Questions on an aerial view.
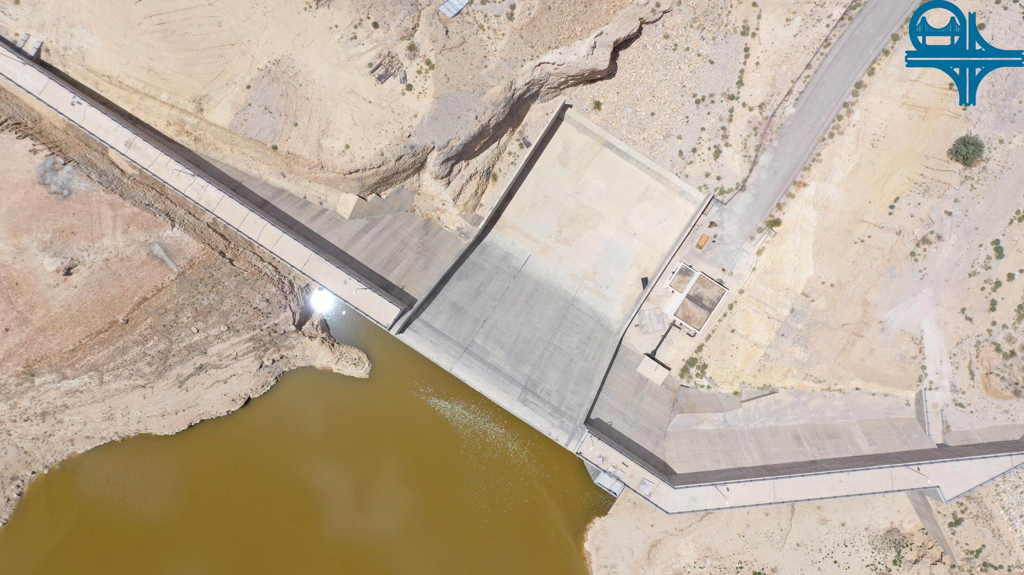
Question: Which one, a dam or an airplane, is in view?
dam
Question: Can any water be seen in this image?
Yes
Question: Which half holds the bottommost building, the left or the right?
right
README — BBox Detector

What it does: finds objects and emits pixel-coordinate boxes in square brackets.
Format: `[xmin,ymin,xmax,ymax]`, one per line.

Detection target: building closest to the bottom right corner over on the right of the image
[665,264,728,333]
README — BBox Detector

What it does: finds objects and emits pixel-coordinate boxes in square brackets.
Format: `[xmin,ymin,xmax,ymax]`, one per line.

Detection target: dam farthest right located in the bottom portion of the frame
[572,421,1024,514]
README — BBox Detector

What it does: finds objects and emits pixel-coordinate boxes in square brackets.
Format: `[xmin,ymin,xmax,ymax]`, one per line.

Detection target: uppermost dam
[0,36,412,331]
